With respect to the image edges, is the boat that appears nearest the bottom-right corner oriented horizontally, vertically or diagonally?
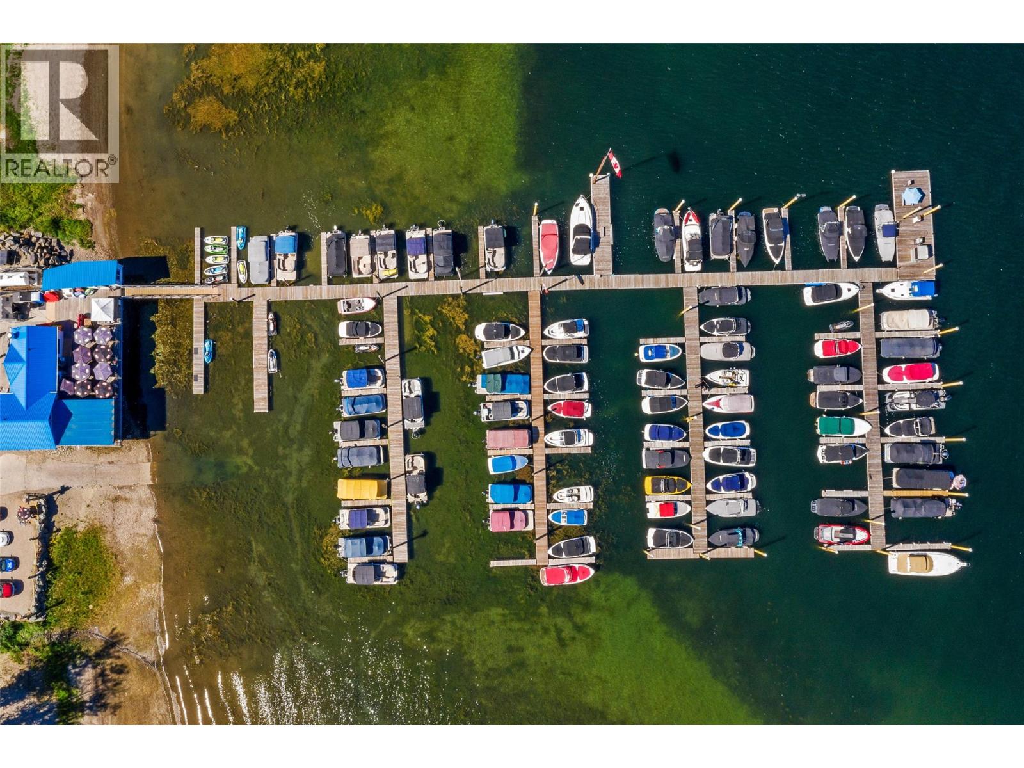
horizontally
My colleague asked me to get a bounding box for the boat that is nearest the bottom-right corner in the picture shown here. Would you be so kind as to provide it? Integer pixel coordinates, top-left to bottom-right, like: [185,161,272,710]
[885,551,972,576]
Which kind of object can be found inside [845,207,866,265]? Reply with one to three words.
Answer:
boat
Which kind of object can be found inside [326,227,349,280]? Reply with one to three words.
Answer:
boat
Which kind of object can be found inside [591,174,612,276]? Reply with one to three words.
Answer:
pier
